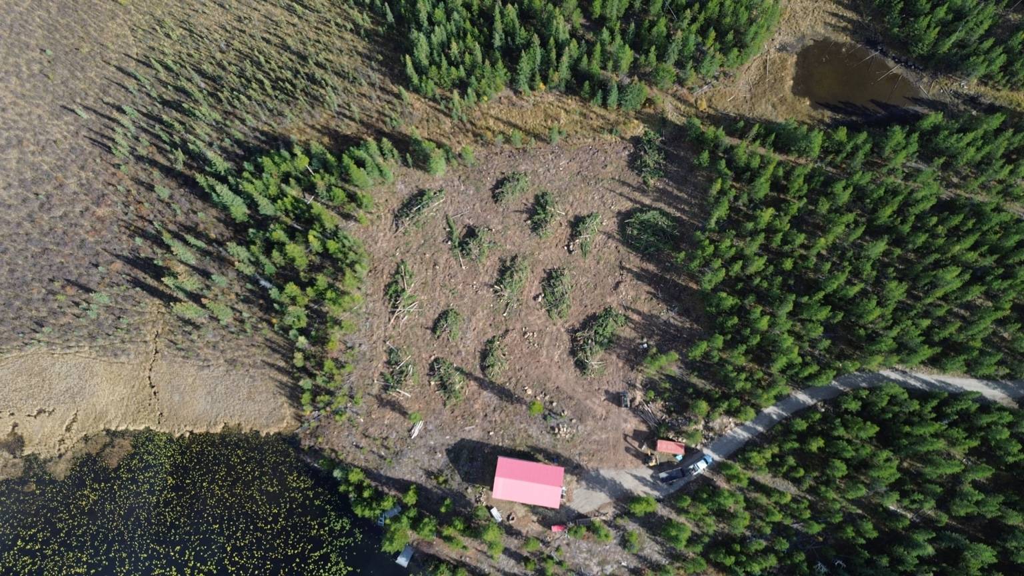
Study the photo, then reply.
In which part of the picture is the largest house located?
bottom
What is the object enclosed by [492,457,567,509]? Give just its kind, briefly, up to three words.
house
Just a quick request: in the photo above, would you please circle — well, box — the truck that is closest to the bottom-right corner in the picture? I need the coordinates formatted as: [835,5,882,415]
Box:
[685,451,717,477]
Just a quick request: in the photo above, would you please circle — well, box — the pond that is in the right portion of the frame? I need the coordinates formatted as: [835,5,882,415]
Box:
[788,38,929,123]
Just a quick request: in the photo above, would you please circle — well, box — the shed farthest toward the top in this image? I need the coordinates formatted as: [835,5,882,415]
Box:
[655,439,686,455]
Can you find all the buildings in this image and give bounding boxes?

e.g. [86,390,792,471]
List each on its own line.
[492,457,567,509]
[655,439,686,455]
